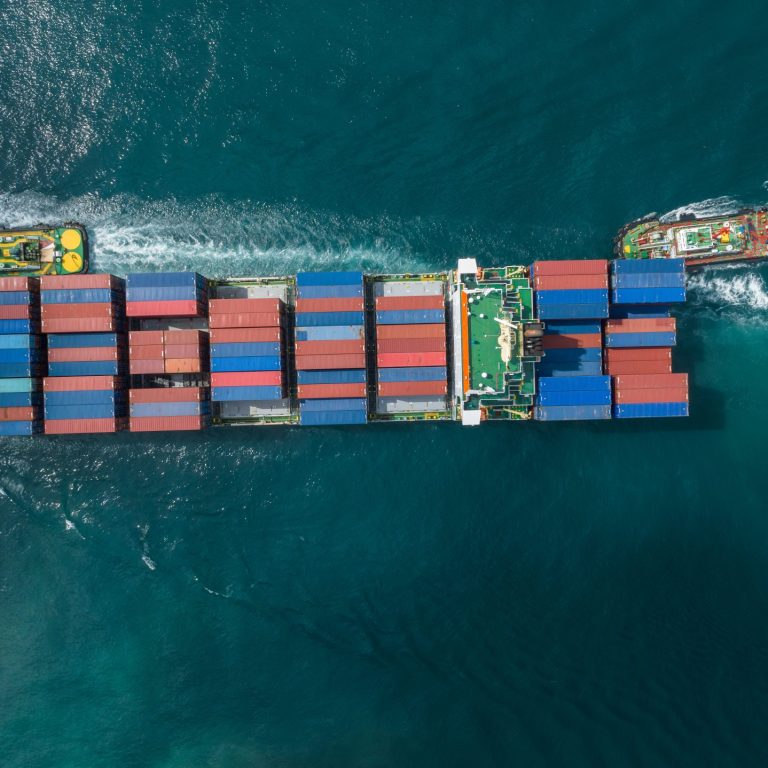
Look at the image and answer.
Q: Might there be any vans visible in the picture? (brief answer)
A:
No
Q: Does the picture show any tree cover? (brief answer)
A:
No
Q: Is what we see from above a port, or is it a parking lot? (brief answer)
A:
port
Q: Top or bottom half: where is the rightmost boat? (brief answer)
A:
top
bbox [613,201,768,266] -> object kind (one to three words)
boat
